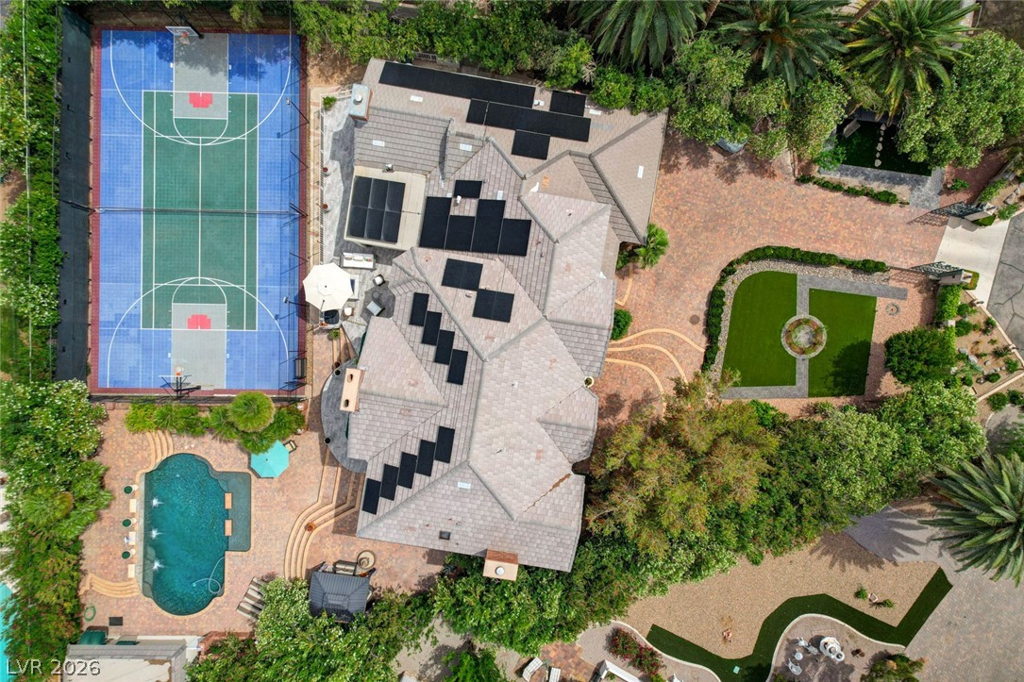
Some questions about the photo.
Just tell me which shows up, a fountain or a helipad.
fountain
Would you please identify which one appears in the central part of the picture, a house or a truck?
house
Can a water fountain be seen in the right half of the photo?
Yes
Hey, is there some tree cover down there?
Yes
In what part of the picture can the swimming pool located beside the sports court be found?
bottom left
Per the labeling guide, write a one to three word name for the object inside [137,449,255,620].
swimming pool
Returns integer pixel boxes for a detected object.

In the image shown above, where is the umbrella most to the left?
[252,439,291,478]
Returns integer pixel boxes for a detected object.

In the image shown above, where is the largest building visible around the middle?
[340,59,668,581]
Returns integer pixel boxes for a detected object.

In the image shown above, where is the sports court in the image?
[90,26,306,395]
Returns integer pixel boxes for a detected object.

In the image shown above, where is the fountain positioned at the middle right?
[782,314,829,360]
